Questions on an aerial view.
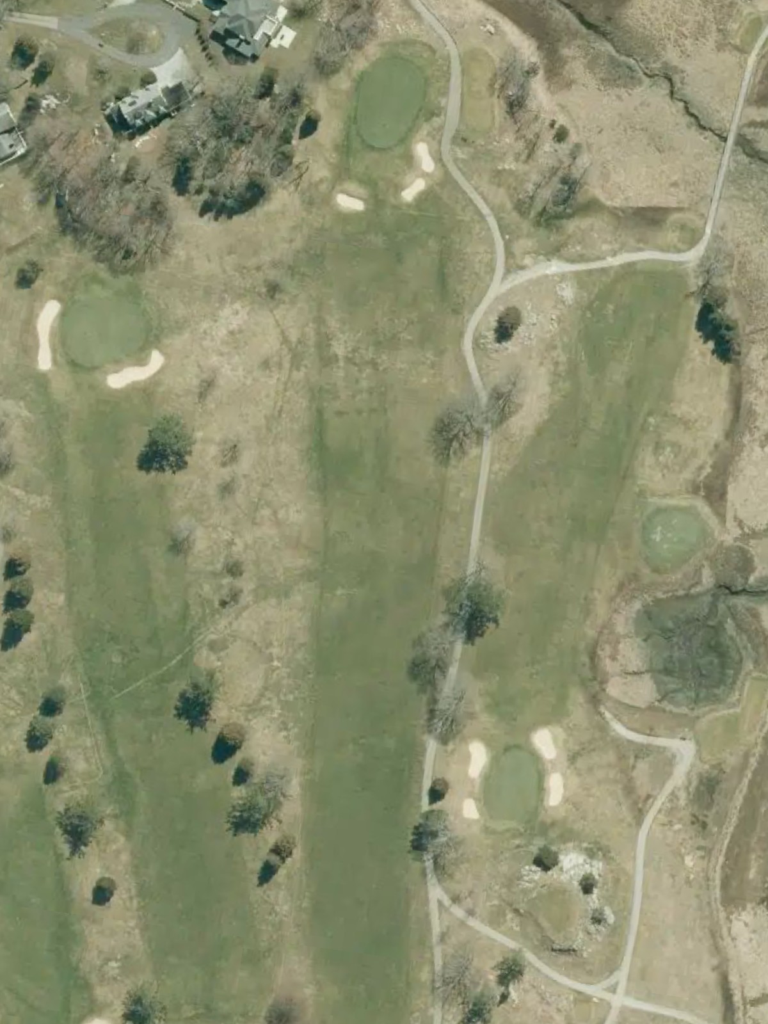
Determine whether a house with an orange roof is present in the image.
No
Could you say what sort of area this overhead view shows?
golf course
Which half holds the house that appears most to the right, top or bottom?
top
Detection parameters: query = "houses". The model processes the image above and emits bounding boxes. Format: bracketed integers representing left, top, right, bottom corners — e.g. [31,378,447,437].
[209,0,296,65]
[0,100,26,163]
[104,79,191,133]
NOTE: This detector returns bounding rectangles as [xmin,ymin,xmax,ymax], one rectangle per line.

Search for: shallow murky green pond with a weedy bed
[636,591,742,703]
